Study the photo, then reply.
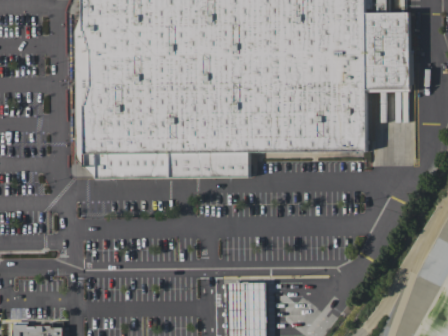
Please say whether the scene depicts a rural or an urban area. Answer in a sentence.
This place is urban.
